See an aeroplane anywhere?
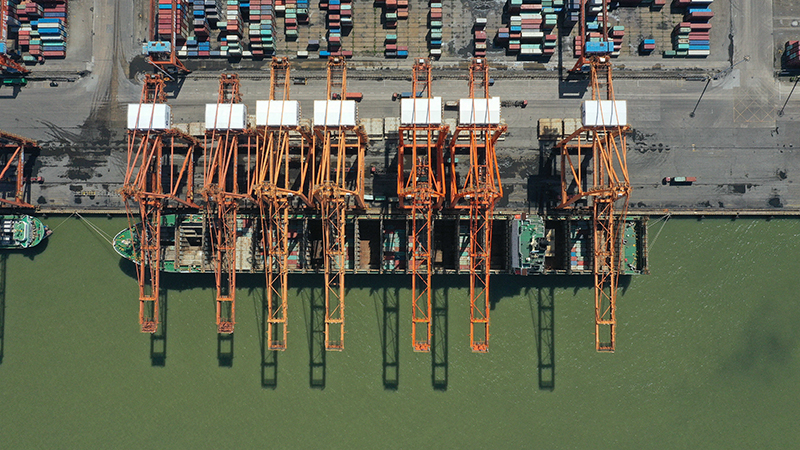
No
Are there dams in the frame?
No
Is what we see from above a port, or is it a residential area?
port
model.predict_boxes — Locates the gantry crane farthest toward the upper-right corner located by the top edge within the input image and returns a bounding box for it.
[563,0,613,74]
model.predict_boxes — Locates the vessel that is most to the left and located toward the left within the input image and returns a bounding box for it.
[0,213,52,247]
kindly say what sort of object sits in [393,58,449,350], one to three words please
container crane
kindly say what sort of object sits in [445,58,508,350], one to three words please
container crane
